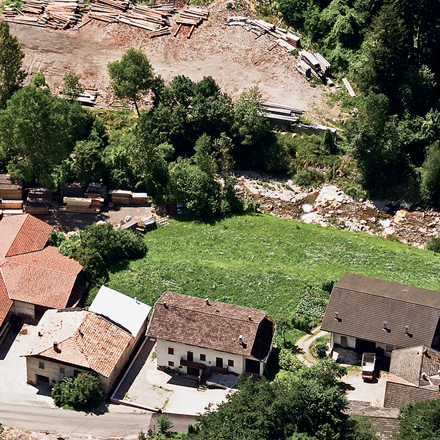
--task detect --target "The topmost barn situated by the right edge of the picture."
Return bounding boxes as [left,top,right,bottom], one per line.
[321,273,439,357]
